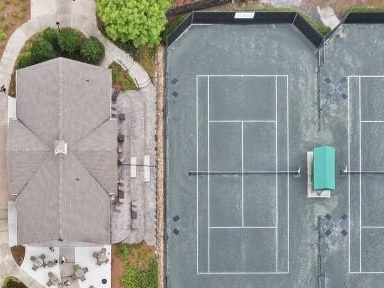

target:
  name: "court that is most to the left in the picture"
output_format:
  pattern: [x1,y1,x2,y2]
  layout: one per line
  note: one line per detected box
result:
[167,23,320,288]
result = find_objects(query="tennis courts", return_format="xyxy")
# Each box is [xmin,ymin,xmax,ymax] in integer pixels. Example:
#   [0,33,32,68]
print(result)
[318,23,384,288]
[167,23,320,288]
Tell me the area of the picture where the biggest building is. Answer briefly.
left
